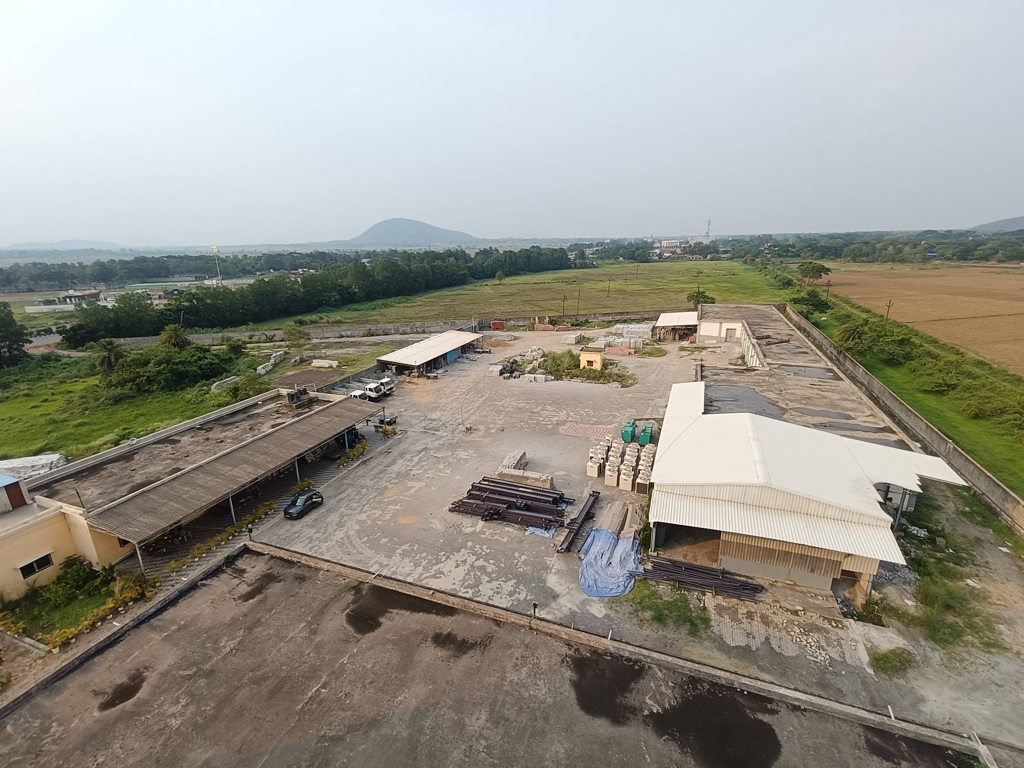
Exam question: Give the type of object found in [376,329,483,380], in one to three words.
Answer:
shed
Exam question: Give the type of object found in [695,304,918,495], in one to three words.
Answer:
building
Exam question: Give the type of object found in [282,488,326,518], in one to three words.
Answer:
car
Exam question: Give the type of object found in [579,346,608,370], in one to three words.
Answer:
shed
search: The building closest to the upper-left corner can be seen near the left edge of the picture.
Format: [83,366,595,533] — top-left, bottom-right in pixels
[50,288,104,304]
